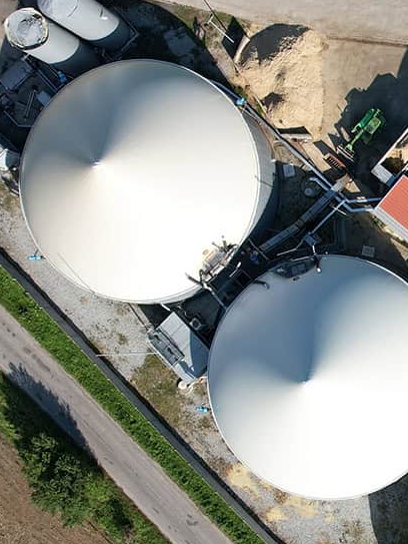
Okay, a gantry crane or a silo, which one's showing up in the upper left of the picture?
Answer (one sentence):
The feature located in the upper left of the picture is a silo.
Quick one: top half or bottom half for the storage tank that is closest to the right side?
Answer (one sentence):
The storage tank that is closest to the right side sits in the bottom half of the picture.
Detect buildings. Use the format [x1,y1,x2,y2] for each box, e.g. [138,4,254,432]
[367,172,408,251]
[156,312,214,390]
